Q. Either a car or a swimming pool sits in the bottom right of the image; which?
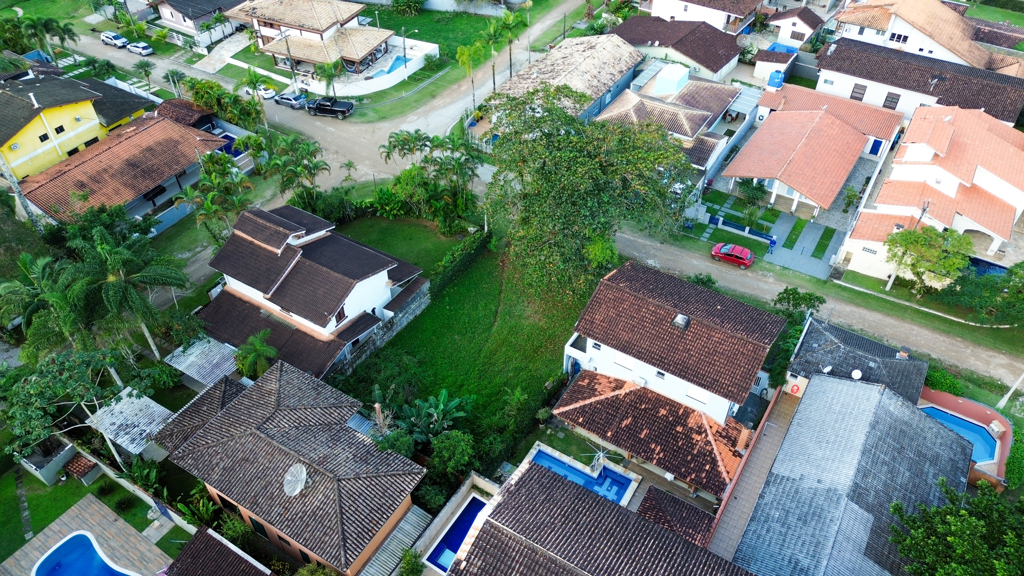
swimming pool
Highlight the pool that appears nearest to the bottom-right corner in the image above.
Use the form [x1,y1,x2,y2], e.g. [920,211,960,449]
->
[916,402,1004,466]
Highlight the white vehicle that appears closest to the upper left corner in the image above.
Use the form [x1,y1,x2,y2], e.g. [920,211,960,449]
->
[98,29,127,48]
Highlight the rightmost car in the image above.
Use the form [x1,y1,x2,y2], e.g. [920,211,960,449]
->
[709,243,759,270]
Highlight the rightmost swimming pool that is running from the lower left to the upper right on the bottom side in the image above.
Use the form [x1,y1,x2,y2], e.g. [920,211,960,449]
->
[421,492,489,576]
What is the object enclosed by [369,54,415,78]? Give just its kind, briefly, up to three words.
swimming pool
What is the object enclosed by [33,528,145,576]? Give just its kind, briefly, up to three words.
swimming pool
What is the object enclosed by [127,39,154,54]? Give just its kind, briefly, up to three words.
car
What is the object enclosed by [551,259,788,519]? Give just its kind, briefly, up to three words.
house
